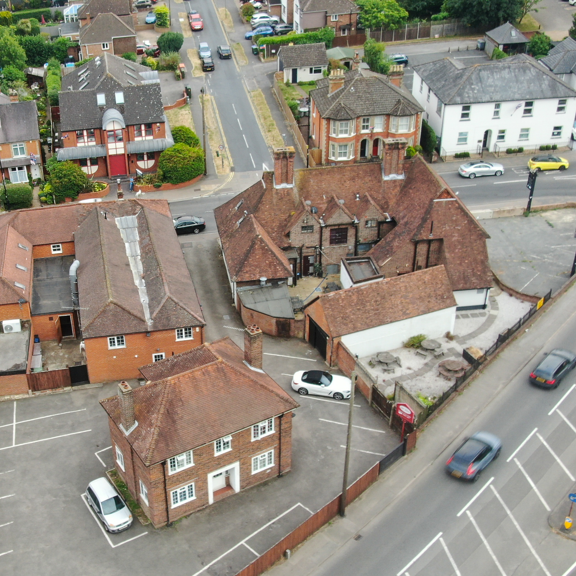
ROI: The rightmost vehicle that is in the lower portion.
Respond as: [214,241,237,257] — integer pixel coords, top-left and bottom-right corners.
[534,351,576,388]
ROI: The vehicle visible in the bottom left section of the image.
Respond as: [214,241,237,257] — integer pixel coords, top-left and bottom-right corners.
[84,474,132,533]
